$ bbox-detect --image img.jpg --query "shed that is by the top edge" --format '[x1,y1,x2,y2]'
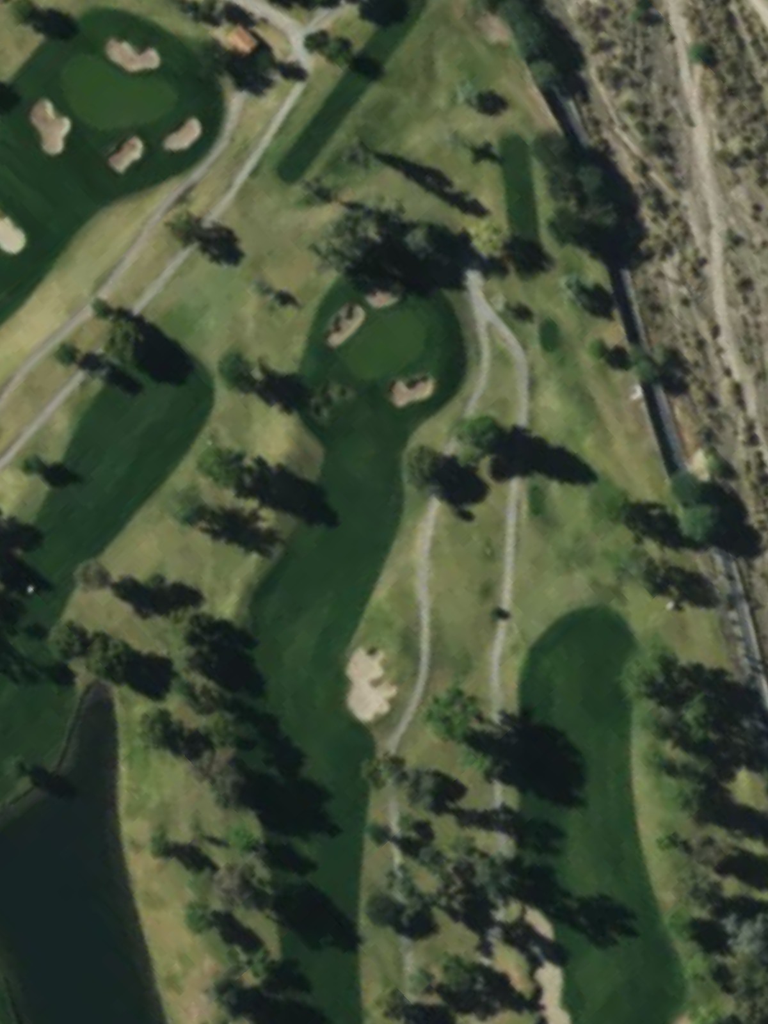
[228,24,257,53]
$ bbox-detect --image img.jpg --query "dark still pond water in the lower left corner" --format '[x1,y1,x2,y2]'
[0,681,167,1024]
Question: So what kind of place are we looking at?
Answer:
golf course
